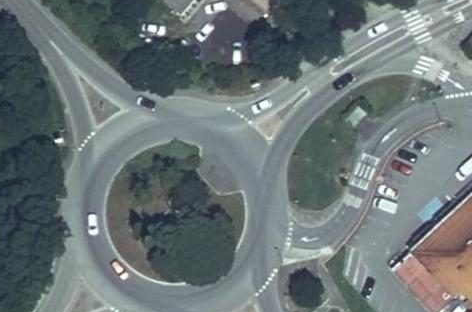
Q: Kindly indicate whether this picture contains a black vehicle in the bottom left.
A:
No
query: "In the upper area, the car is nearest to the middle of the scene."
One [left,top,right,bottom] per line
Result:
[252,99,274,114]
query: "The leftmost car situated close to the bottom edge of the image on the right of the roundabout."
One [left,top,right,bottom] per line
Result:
[360,276,376,299]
